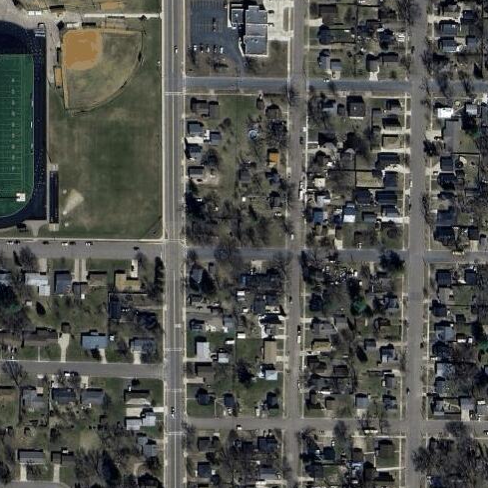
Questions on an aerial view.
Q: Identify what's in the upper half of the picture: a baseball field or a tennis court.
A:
baseball field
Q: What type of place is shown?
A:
residential area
